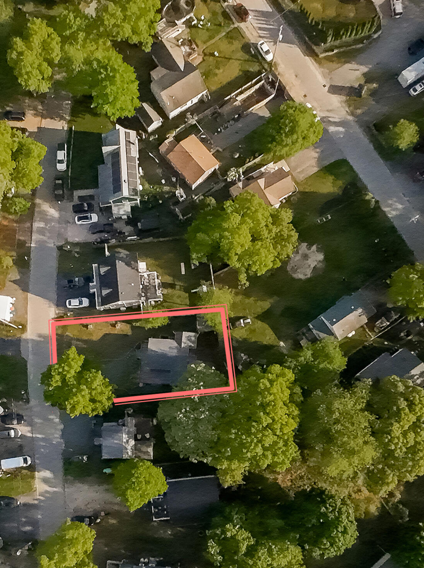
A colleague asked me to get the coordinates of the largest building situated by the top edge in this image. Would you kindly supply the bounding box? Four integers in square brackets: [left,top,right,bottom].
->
[146,14,208,119]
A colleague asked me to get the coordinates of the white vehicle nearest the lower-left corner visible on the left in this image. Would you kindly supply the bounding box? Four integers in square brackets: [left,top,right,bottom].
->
[0,456,32,469]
